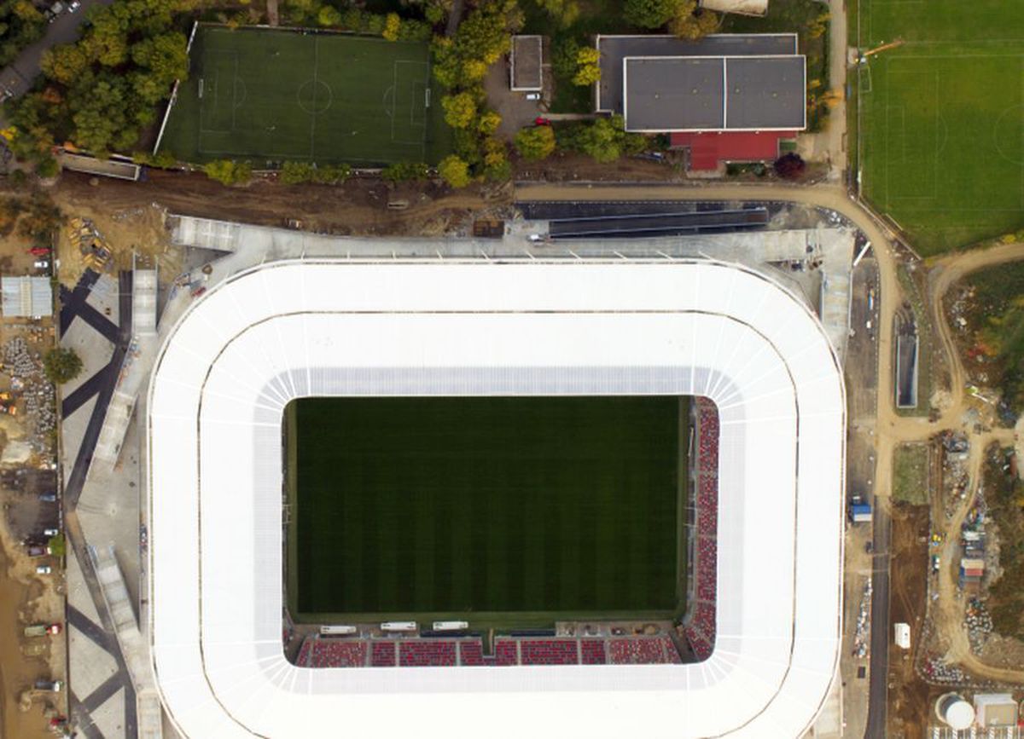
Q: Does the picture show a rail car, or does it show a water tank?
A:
water tank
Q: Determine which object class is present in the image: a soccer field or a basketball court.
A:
soccer field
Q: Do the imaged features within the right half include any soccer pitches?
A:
Yes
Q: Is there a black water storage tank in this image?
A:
No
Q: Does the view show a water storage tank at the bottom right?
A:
Yes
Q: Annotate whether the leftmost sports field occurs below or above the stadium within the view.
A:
above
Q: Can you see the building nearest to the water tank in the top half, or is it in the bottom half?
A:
bottom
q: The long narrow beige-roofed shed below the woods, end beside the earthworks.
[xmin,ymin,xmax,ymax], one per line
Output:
[61,150,142,180]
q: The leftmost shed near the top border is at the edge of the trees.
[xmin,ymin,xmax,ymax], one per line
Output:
[509,35,543,90]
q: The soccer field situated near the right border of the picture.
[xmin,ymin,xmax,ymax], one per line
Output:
[857,0,1024,258]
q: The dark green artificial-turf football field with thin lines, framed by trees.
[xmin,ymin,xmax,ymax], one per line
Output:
[157,24,455,172]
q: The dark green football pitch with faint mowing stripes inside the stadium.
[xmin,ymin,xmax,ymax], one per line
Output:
[289,395,688,625]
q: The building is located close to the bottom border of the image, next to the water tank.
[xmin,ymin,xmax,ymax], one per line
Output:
[975,693,1016,727]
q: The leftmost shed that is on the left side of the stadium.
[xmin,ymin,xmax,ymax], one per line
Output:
[2,275,54,317]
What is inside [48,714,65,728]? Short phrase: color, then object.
red work vehicle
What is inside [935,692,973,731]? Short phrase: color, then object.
white water tank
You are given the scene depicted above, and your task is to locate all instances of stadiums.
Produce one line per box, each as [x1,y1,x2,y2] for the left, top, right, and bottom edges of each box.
[152,248,847,739]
